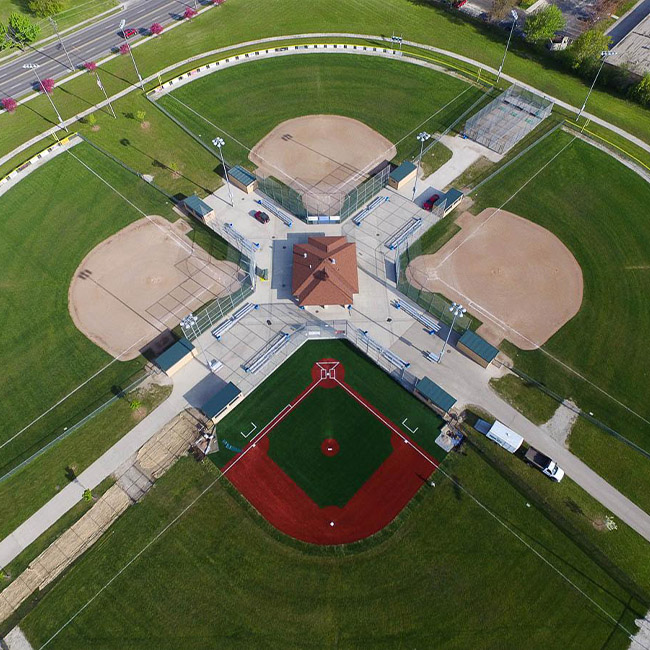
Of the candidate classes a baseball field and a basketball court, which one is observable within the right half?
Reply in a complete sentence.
The feature located within the right half is a baseball field.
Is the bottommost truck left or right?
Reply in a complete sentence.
The bottommost truck sits on the right side.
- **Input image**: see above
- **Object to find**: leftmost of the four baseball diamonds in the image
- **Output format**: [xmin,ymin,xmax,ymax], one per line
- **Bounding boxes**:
[0,137,256,483]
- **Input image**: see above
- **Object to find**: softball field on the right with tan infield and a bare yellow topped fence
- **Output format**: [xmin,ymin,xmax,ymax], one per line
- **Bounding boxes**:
[395,120,650,456]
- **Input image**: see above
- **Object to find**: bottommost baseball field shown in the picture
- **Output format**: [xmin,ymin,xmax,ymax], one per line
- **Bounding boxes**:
[20,339,649,650]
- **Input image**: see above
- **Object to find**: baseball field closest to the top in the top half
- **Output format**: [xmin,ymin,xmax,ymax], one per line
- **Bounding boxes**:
[145,47,491,224]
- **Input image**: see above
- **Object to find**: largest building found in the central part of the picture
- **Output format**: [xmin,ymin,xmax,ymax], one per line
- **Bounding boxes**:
[292,235,360,314]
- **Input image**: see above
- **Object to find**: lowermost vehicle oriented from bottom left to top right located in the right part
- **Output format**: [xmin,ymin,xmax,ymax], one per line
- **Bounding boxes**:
[421,192,442,213]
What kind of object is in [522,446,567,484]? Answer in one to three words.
truck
